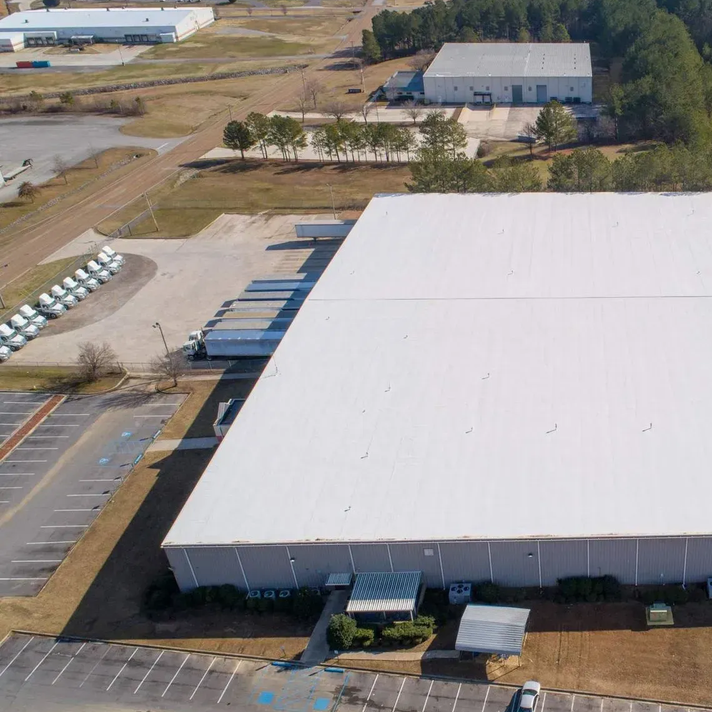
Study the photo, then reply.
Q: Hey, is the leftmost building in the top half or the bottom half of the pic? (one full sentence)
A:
The top half of the photo is where the leftmost building is.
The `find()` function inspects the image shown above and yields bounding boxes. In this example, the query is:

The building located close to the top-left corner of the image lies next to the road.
[0,6,212,48]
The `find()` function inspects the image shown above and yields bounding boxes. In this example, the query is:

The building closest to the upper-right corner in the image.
[422,43,594,103]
